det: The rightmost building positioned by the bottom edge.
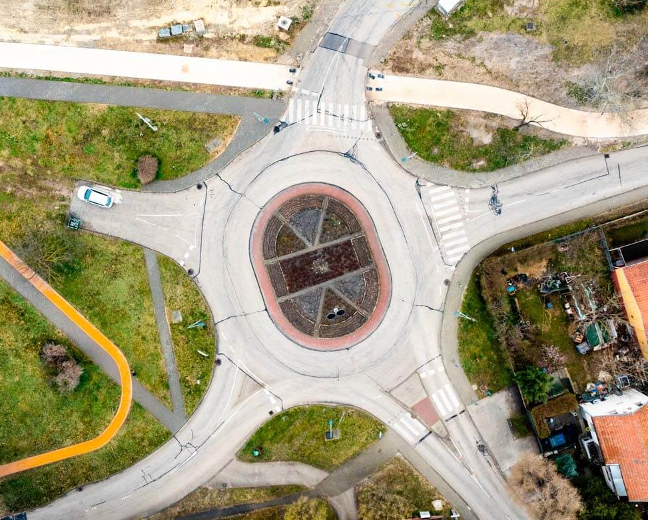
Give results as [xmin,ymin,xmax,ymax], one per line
[577,389,648,502]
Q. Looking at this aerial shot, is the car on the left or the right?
left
